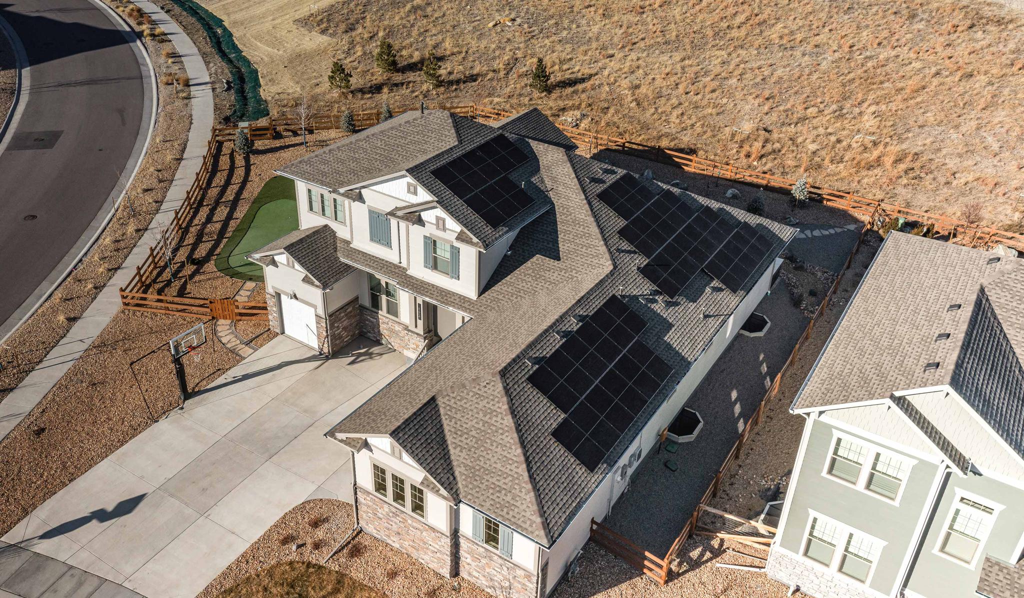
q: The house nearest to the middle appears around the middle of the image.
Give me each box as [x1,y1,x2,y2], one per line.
[243,94,799,598]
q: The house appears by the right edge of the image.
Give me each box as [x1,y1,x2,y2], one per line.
[700,230,1024,598]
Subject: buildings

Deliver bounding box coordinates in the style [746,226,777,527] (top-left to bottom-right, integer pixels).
[243,94,799,598]
[700,230,1024,598]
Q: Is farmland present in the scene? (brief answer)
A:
No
